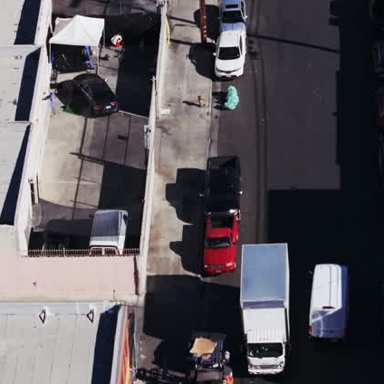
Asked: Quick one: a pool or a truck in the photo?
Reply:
truck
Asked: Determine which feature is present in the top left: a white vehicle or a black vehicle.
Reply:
black vehicle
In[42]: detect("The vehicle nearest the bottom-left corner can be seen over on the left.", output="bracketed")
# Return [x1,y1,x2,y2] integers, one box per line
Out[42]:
[49,222,88,253]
